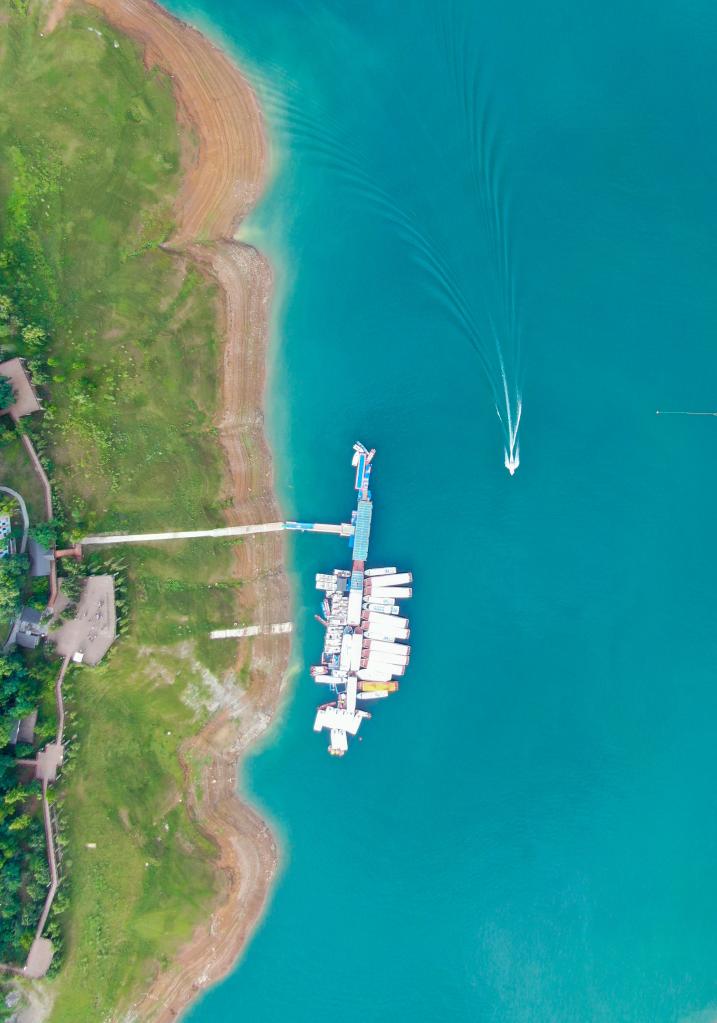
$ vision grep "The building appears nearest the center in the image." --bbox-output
[353,501,372,561]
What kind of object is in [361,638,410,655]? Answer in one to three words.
boat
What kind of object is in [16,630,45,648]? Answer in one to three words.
house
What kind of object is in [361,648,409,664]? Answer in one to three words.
boat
